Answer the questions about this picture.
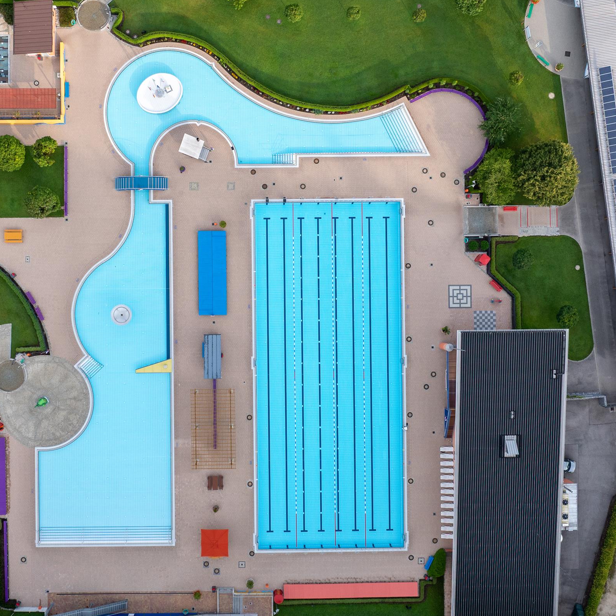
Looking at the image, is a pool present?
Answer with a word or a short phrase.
Yes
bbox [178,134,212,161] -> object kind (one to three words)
shed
